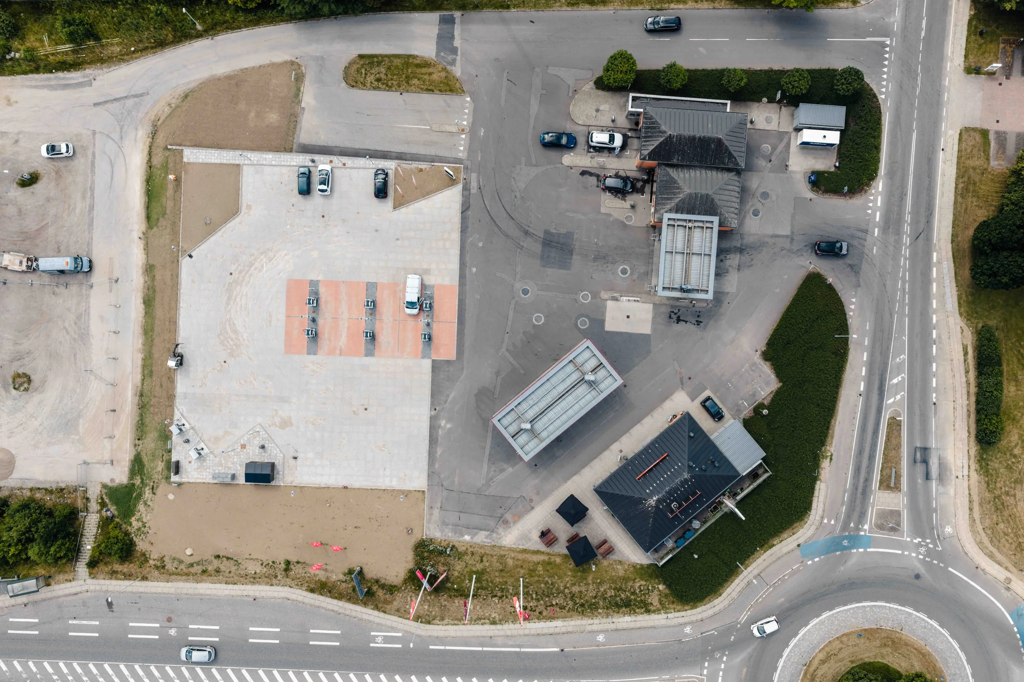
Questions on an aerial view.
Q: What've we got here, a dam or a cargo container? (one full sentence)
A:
Looking from above, you can make out a cargo container.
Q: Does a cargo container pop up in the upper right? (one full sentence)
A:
Yes, looking in the upper right, one can make out a cargo container.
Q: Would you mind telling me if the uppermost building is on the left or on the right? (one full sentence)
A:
It is on the right.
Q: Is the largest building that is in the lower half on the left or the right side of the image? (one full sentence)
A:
The largest building that is in the lower half is on the right side of the image.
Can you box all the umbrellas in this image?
[566,536,598,567]
[556,494,589,527]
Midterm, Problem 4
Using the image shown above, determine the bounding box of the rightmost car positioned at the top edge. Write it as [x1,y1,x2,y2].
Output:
[644,13,681,32]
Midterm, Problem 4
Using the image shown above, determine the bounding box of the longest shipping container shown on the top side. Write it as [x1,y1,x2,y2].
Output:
[792,102,846,131]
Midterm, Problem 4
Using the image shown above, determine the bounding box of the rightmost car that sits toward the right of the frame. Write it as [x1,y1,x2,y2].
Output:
[814,239,848,257]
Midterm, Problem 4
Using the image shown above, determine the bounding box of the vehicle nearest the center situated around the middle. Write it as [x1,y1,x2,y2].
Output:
[403,275,425,314]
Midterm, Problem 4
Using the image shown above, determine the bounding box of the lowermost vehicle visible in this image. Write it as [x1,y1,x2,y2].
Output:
[181,646,215,664]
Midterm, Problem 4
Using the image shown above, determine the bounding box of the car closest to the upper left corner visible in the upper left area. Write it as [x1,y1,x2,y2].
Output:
[40,140,74,158]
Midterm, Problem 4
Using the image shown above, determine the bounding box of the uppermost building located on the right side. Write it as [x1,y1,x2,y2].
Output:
[626,93,748,168]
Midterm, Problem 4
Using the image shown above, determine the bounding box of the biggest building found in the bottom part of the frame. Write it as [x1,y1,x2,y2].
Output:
[593,411,741,554]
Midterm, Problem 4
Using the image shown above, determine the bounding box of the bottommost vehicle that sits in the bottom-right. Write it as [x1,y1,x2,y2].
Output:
[751,616,780,638]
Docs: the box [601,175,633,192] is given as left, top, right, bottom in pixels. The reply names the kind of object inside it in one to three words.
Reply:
car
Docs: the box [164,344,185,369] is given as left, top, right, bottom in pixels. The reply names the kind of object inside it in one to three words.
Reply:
work vehicle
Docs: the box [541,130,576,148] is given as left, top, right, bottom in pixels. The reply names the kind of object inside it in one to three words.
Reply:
car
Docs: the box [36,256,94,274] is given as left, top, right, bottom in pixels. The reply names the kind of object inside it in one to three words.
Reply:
vehicle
